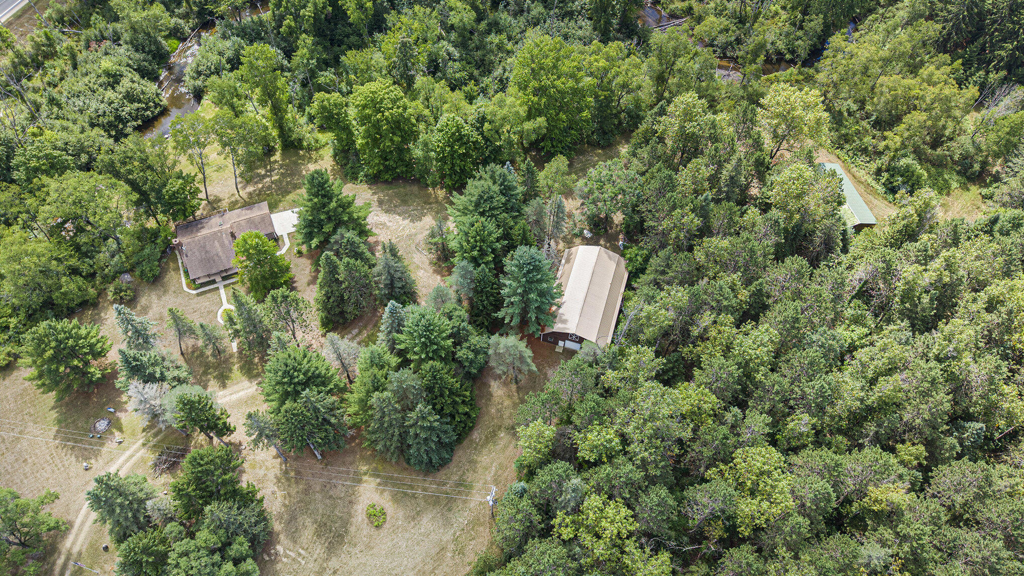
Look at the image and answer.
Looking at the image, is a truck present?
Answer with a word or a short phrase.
No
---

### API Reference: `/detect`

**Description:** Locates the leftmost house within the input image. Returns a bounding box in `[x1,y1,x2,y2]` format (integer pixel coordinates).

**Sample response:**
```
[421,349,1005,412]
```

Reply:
[172,201,278,286]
